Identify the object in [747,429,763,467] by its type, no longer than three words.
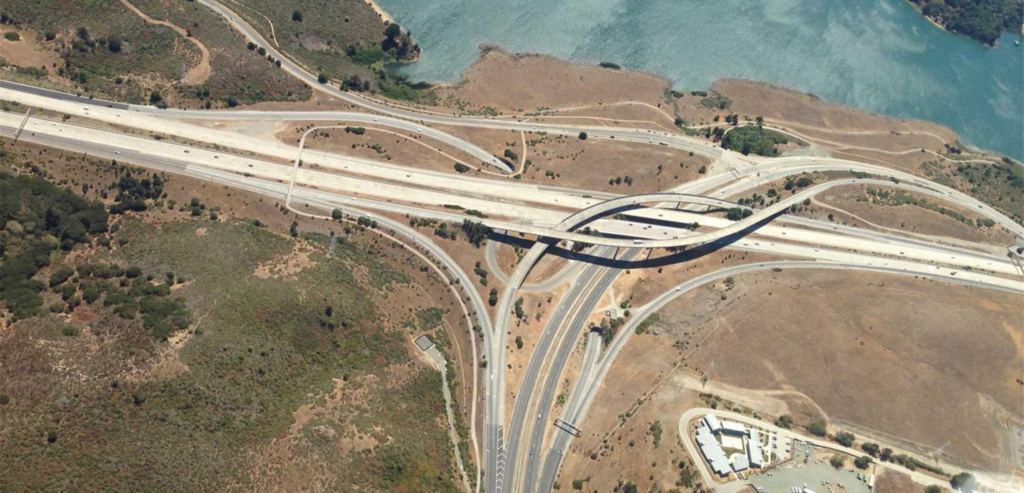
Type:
building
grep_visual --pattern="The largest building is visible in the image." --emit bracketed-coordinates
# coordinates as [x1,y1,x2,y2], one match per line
[696,427,731,476]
